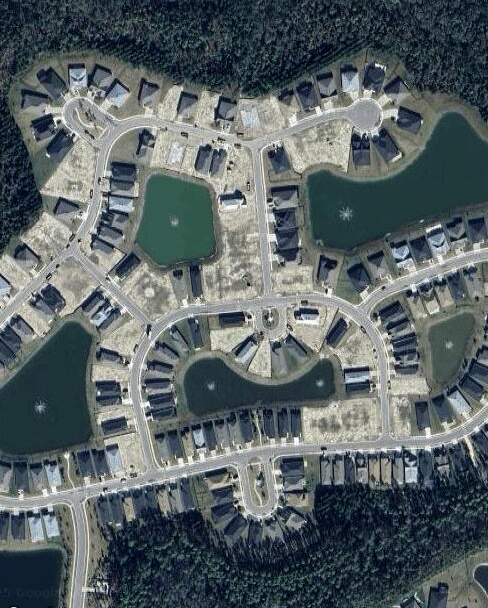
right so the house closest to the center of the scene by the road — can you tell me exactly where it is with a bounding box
[220,312,244,327]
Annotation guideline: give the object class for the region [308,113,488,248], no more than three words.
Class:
pond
